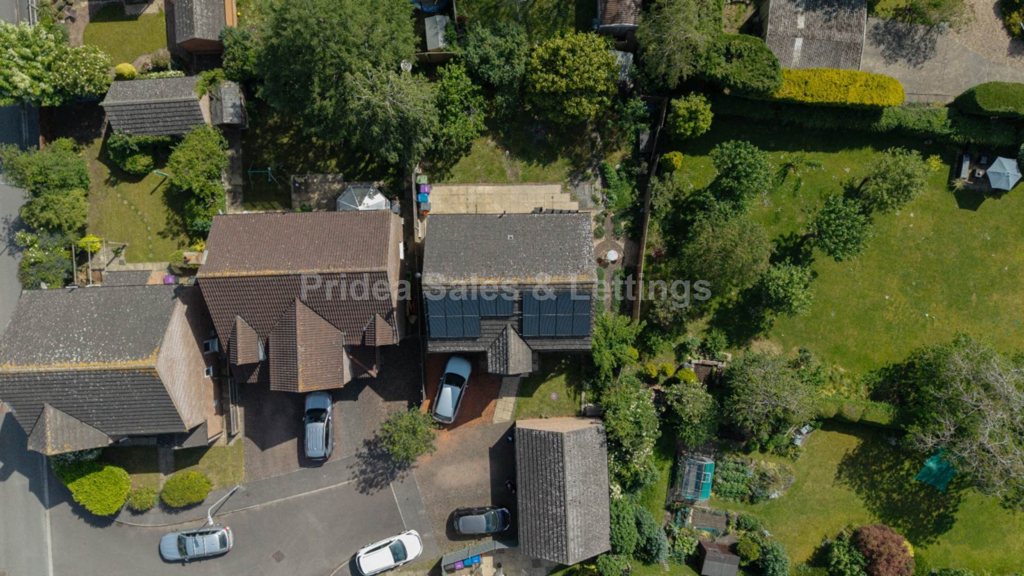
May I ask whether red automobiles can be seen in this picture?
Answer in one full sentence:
No, I can see no red automobile in this picture.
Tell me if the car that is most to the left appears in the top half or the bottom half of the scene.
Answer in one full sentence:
The car that is most to the left is in the bottom half of the image.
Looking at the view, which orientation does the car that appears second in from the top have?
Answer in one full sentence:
I'd say the car that appears second in from the top is aligned up and down in the picture.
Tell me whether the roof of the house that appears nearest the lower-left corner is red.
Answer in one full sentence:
No, the color of the roof of the house that appears nearest the lower-left corner is gray.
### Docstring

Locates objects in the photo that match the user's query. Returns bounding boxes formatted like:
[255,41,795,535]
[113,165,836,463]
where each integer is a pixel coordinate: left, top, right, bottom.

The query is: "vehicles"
[161,523,235,562]
[301,391,336,461]
[453,504,511,537]
[431,354,471,424]
[354,528,425,576]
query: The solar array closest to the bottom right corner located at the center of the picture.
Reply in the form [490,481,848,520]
[523,294,592,336]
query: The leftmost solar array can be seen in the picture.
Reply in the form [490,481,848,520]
[426,295,513,337]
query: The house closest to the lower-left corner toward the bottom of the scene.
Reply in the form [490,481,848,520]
[0,259,220,455]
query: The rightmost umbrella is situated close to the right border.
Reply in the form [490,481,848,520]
[979,157,1022,190]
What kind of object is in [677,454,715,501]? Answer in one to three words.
greenhouse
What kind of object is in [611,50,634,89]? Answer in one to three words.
shed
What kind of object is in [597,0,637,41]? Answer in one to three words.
building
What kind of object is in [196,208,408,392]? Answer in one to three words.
house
